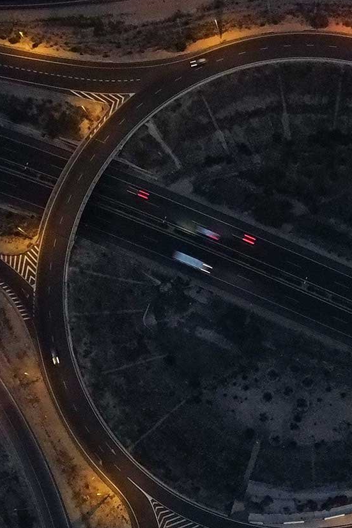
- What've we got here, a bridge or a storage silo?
bridge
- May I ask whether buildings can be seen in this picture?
No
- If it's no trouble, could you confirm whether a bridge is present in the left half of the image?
Yes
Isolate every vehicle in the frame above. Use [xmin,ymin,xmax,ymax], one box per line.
[192,60,205,66]
[174,250,211,272]
[50,348,57,363]
[131,188,145,196]
[237,232,251,242]
[199,226,221,239]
